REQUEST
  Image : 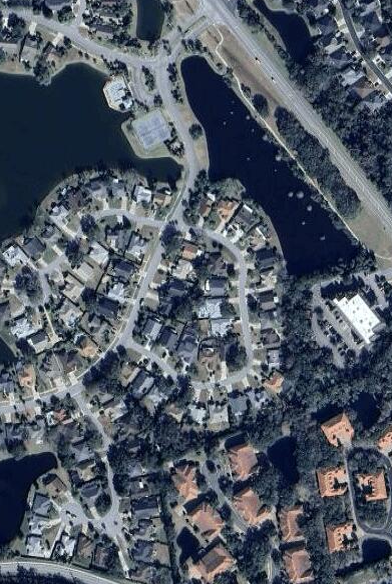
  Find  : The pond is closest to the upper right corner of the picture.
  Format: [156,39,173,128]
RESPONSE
[254,0,313,66]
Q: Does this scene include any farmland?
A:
No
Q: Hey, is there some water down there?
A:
Yes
